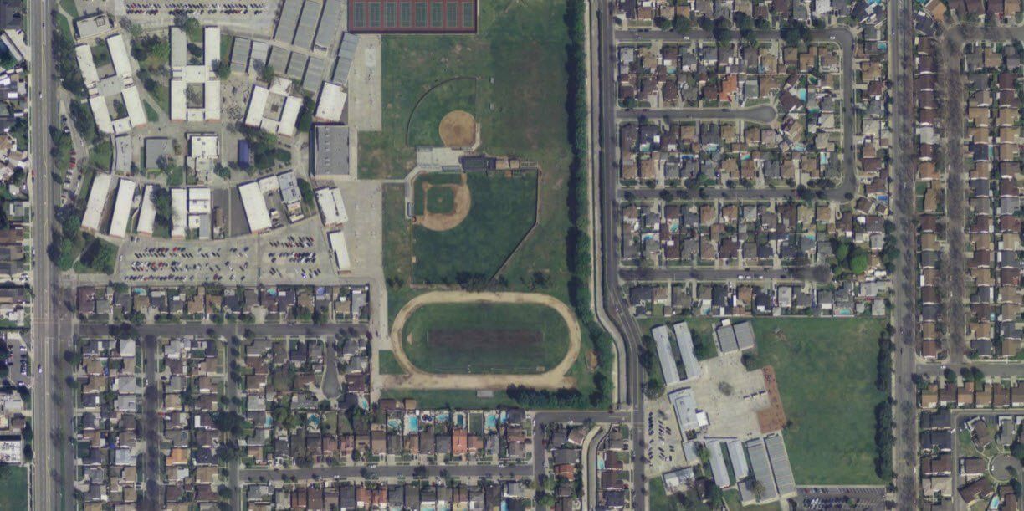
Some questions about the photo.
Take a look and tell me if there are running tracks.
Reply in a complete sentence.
Yes, a running track appears in the view.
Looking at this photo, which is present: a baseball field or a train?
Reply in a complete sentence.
It is a baseball field that can be seen here.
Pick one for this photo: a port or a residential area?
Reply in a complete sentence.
This looks like a residential area.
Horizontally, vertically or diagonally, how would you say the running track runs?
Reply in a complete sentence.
In this picture, the running track is oriented horizontally.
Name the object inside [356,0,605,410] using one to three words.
sports field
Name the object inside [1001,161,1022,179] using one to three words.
house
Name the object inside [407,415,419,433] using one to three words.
swimming pool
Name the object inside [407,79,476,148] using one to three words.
baseball field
